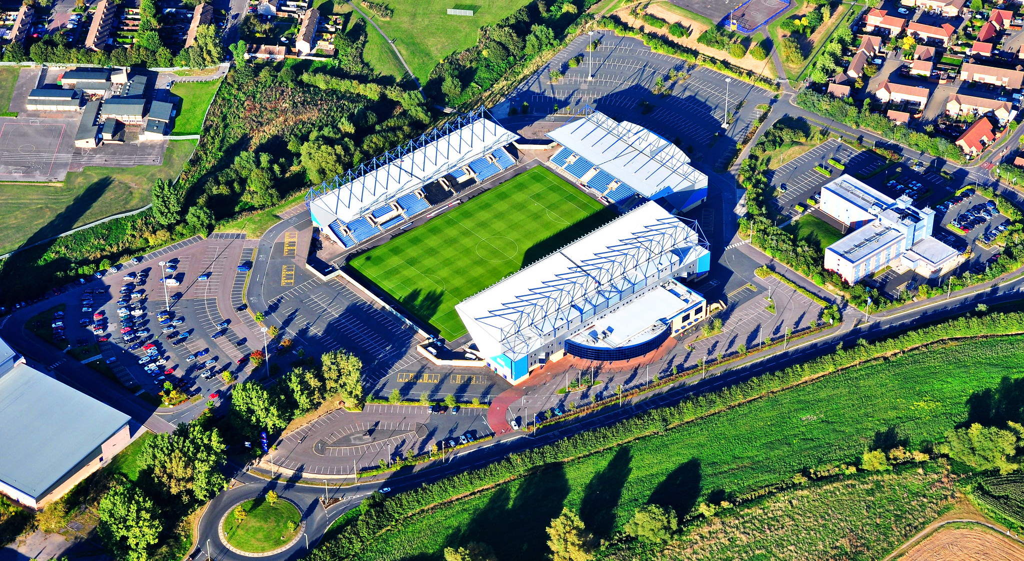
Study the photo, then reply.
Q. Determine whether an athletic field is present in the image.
Yes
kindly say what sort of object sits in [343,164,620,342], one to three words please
sports field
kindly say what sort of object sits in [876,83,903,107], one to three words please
house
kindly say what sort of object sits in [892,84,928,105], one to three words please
house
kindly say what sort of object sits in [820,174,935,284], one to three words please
building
